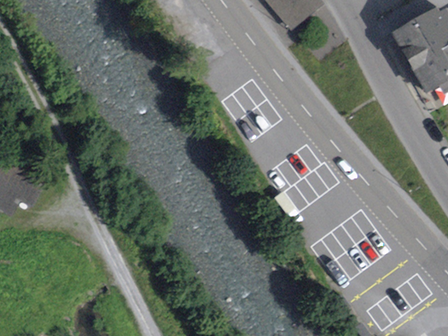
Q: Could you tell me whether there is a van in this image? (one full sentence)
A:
Yes, looking at the shot, I can spot a van.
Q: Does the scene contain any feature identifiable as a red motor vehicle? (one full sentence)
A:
Yes, a red motor vehicle is visible in the scene.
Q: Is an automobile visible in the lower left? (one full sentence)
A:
No, looking in the lower left, there is no automobile.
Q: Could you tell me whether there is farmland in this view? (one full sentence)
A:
No, farmland can't be seen anywhere here.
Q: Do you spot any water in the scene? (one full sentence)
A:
Yes, water can be seen from above here.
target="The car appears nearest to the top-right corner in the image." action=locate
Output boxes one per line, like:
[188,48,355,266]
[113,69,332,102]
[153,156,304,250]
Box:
[425,119,442,142]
